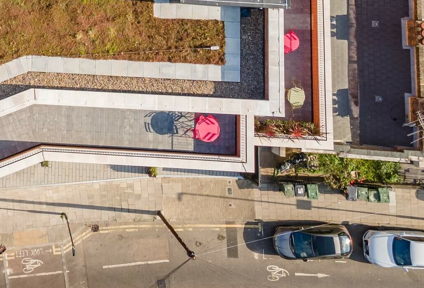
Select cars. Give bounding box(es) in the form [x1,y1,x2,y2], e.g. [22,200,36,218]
[272,221,356,266]
[361,225,424,272]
